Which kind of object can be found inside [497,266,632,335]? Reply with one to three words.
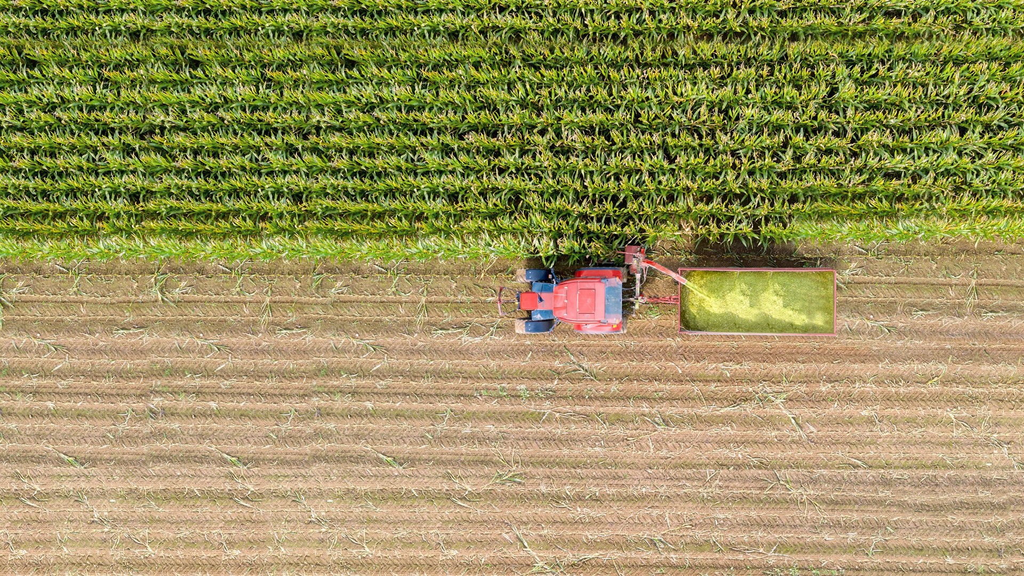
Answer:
work vehicle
